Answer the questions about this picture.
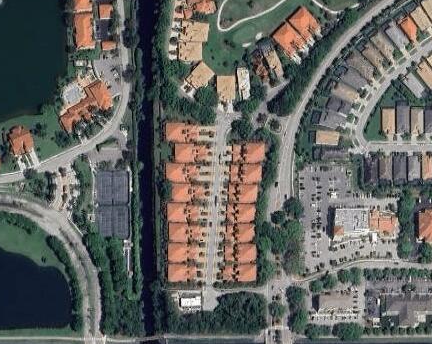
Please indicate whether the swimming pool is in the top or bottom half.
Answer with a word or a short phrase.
top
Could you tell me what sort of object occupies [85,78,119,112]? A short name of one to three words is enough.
building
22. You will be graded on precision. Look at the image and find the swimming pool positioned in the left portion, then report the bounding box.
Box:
[63,85,82,105]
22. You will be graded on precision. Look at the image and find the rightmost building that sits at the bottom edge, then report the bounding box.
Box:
[386,295,432,327]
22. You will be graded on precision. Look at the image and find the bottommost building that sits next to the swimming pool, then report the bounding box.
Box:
[56,97,97,137]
